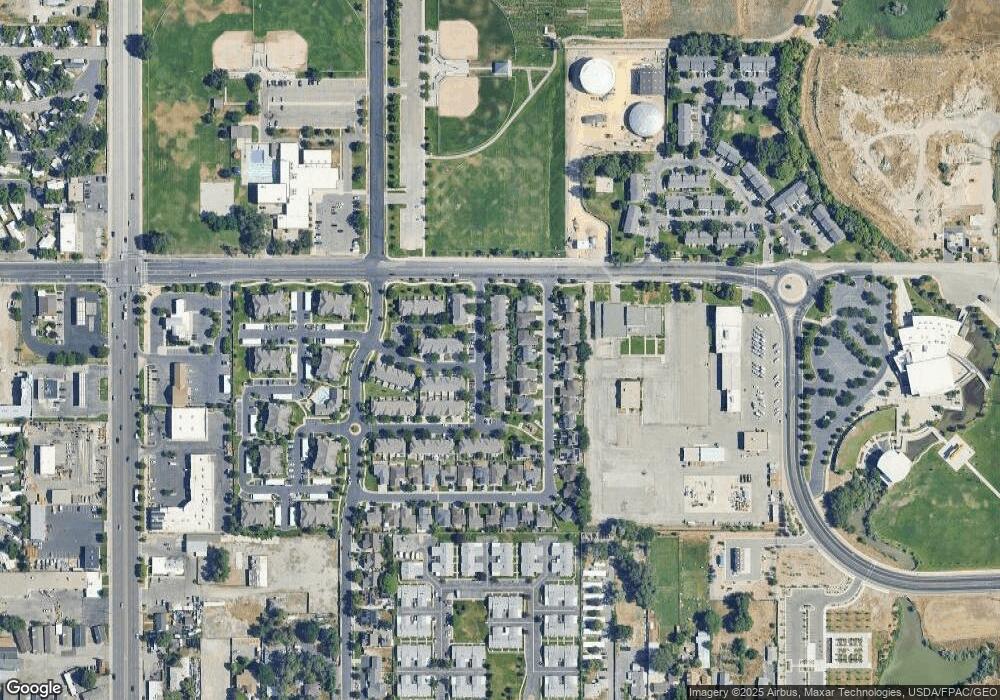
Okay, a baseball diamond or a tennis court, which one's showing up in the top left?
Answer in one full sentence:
It is a baseball diamond that can be seen in the top left.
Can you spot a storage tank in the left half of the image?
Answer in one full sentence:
No, looking in the left half of the image, there is no storage tank.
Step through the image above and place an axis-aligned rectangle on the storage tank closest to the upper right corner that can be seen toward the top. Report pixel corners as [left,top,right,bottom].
[629,103,664,139]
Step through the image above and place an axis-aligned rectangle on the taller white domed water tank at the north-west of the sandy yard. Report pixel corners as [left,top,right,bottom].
[580,59,616,96]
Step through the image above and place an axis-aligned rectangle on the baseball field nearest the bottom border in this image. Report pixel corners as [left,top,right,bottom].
[433,74,480,118]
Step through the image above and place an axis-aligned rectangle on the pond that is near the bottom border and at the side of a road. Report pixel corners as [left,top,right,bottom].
[876,597,978,700]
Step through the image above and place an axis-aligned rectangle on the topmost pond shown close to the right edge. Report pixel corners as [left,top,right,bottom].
[940,330,992,431]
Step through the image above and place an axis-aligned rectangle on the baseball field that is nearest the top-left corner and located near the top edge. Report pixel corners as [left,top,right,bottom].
[212,31,256,72]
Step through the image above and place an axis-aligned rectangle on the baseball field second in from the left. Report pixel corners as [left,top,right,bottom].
[264,31,308,72]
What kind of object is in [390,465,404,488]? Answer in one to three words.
house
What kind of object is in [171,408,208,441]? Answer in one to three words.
building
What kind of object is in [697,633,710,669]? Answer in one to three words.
shed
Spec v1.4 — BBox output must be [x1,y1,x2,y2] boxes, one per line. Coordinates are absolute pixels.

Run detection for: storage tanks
[580,59,616,96]
[629,103,664,139]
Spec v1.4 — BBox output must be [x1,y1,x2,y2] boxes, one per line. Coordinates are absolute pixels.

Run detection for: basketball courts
[201,182,234,216]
